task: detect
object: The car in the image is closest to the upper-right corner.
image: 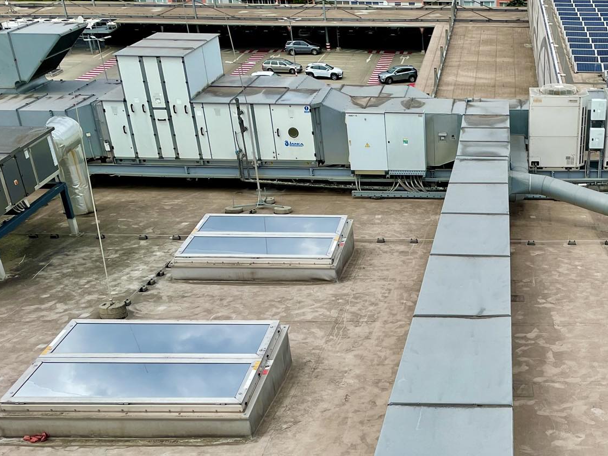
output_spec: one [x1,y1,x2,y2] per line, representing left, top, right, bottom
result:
[401,27,418,41]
